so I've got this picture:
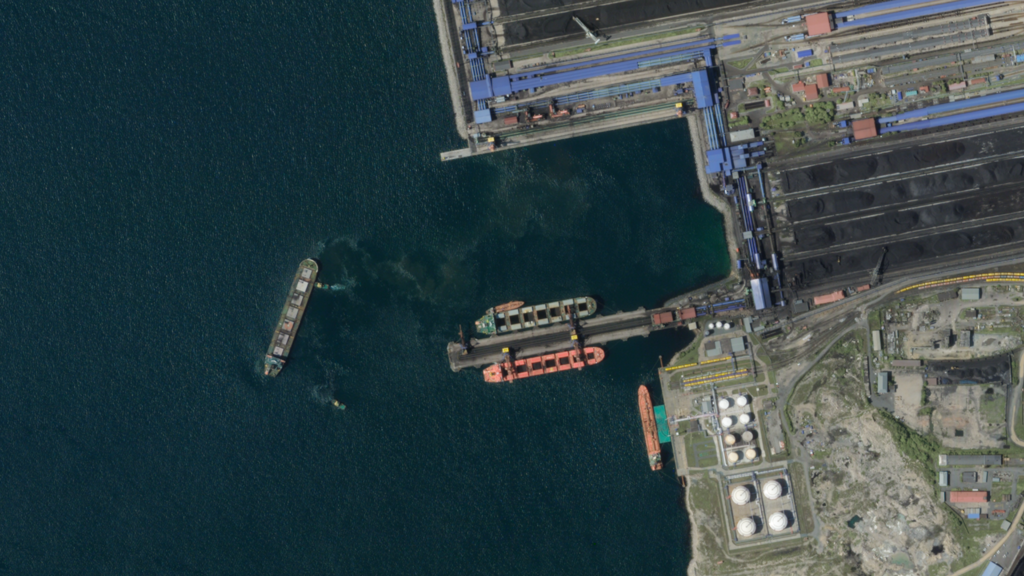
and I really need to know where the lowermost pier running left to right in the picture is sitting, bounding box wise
[447,302,697,371]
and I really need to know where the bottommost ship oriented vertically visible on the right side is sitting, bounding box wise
[638,385,662,473]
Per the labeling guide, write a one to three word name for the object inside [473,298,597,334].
ship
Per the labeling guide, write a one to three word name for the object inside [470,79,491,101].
shed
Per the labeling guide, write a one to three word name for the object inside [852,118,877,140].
building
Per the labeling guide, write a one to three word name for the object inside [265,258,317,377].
ship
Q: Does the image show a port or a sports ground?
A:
port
